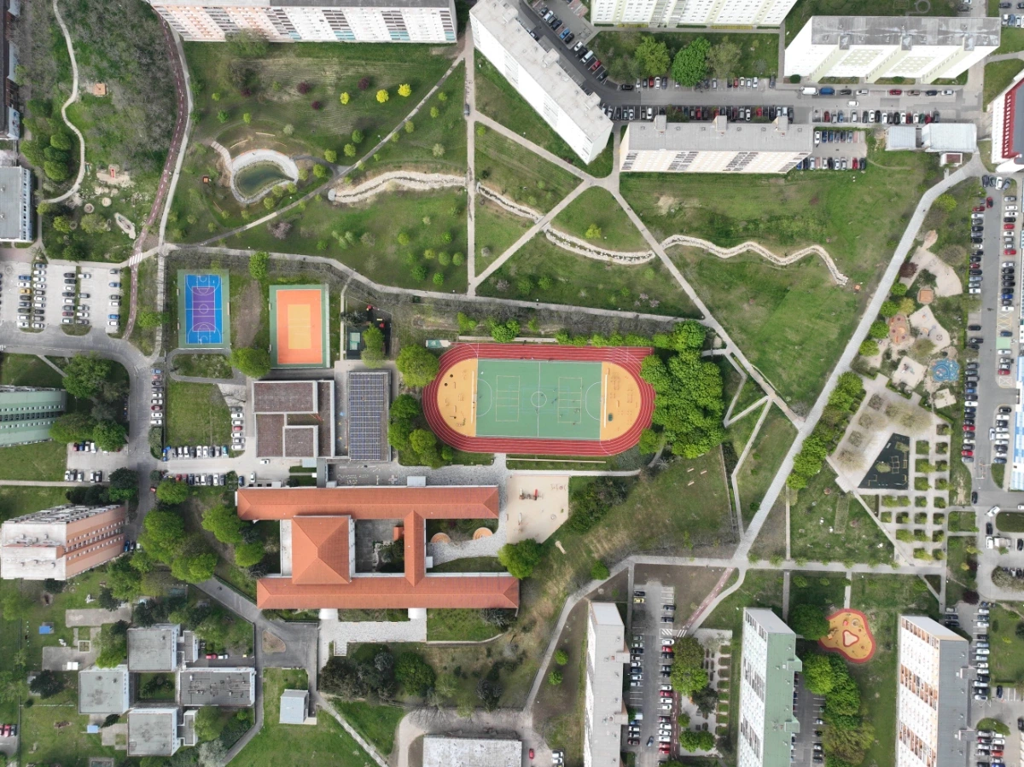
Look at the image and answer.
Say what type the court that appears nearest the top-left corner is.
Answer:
basketball court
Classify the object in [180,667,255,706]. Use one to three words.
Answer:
building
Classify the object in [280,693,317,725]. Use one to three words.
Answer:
shed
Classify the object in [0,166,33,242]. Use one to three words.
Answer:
building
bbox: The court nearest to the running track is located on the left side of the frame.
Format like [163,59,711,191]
[270,285,327,368]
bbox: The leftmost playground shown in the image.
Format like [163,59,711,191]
[817,609,876,663]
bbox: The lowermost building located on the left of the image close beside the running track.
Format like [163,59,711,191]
[237,475,519,620]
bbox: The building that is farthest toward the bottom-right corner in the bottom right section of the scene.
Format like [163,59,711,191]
[896,616,977,767]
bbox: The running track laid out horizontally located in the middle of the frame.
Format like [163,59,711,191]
[422,342,656,457]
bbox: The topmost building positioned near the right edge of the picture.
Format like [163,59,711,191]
[783,16,1001,82]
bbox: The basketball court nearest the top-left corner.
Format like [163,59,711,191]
[177,269,230,349]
